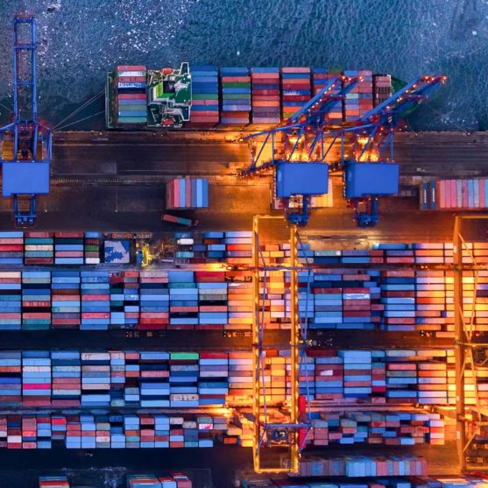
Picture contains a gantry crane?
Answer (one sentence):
Yes, there's a gantry crane here.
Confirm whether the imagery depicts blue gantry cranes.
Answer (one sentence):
Yes, you can see a blue gantry crane in this photo.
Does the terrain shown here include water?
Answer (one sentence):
Yes, some water is visible.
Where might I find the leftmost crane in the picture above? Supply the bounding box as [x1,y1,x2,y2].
[0,17,52,235]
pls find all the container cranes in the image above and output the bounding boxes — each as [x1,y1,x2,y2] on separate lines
[0,17,52,235]
[300,75,447,235]
[421,217,488,475]
[229,217,314,475]
[233,75,366,235]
